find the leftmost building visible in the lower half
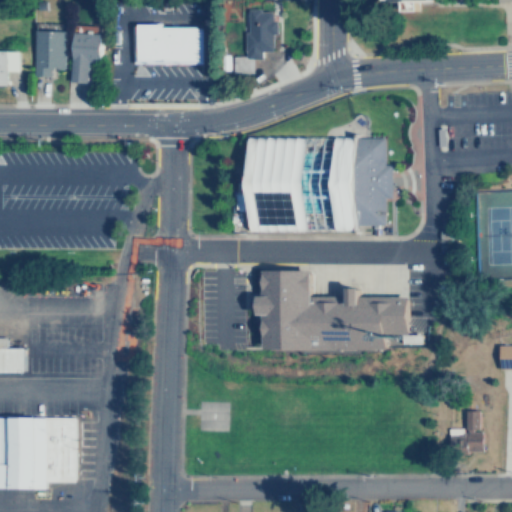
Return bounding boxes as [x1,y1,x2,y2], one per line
[0,338,28,374]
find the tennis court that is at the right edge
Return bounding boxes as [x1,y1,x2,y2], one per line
[476,192,512,276]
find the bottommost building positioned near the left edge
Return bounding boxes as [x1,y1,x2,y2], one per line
[0,417,81,490]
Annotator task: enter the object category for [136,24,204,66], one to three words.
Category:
building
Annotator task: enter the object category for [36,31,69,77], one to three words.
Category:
house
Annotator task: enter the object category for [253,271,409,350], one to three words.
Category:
building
